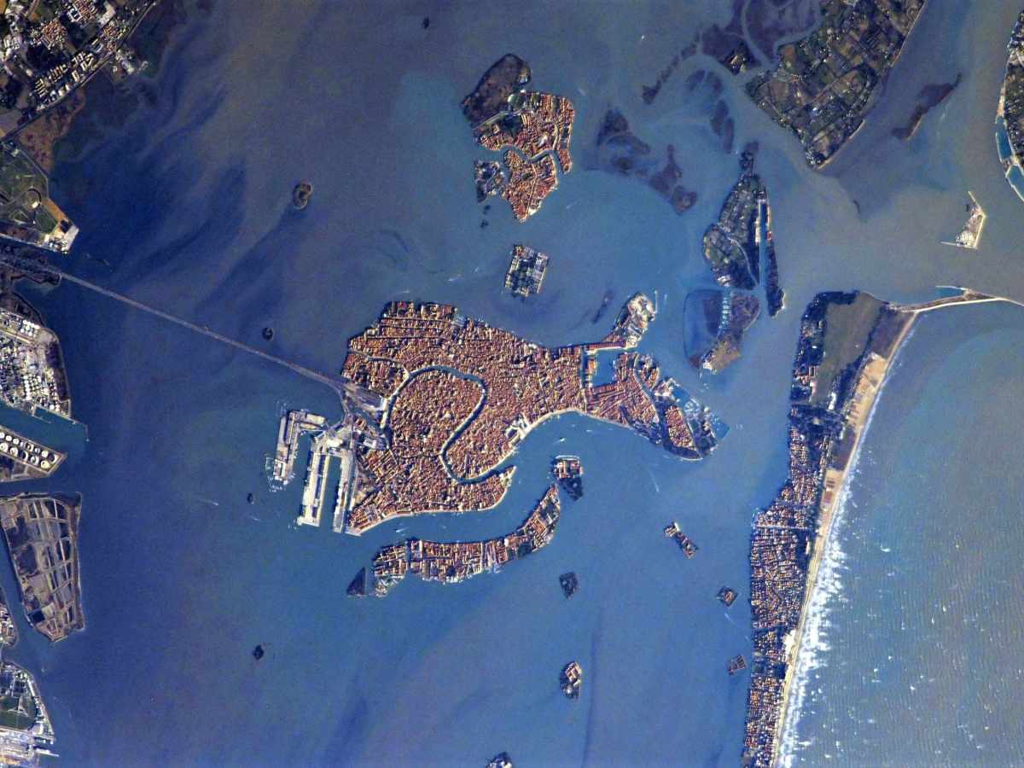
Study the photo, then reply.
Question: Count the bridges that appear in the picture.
one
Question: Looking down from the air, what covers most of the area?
water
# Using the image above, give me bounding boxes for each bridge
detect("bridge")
[58,273,343,390]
